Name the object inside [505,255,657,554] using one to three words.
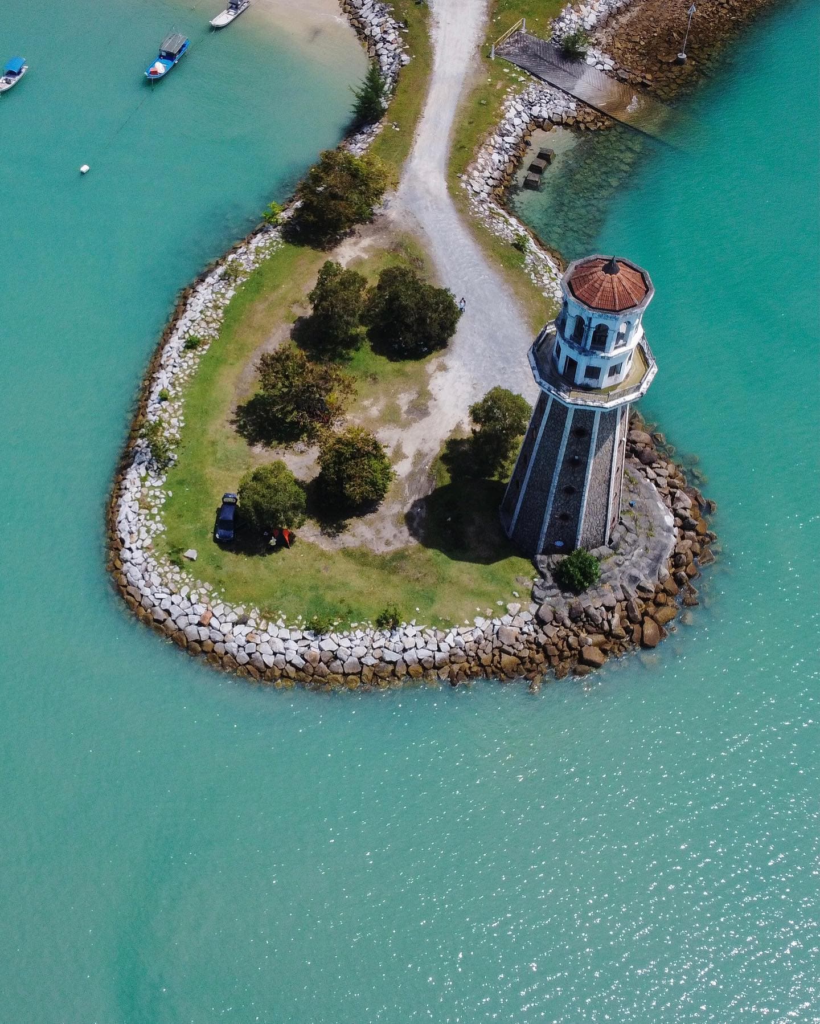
lighthouse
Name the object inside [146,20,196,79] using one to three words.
boat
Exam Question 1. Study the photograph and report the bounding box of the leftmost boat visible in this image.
[0,54,32,92]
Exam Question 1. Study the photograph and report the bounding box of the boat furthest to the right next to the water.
[210,0,255,27]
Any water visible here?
Yes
